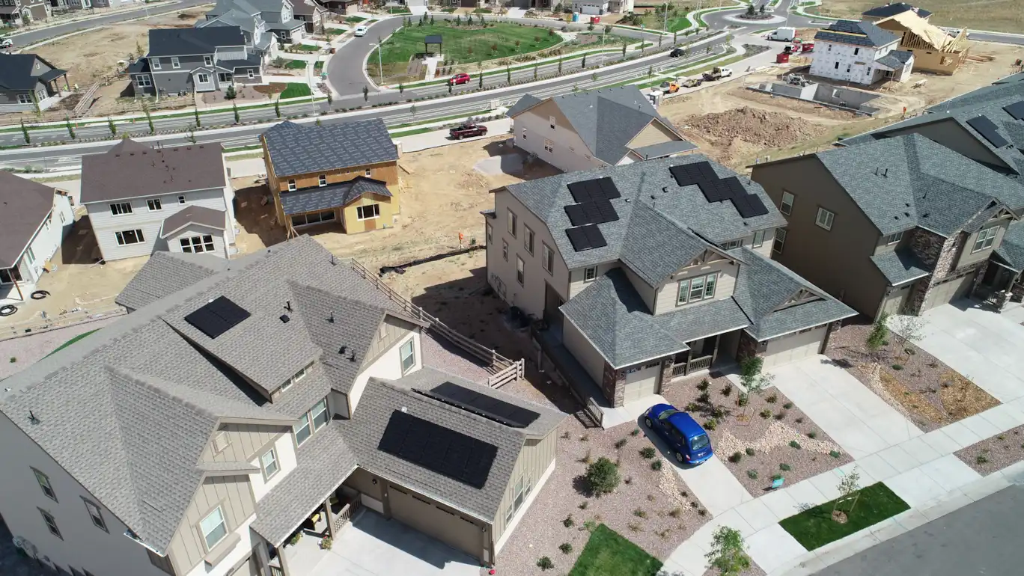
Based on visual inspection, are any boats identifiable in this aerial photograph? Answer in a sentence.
No, no boat can be seen from above.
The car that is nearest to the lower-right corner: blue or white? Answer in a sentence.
The color of the car that is nearest to the lower-right corner is blue.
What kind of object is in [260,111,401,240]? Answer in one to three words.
house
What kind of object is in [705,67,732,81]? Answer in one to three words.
vehicle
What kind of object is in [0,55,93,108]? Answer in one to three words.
house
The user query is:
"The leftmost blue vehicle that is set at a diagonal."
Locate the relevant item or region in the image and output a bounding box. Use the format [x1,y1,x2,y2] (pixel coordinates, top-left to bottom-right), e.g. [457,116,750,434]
[643,401,716,467]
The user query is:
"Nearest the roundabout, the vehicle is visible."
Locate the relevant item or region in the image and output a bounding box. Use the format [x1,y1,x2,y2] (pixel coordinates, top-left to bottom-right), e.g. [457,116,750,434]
[770,26,799,42]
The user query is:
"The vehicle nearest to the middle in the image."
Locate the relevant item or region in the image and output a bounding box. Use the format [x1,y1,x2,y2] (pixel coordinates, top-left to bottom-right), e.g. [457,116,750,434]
[449,123,486,140]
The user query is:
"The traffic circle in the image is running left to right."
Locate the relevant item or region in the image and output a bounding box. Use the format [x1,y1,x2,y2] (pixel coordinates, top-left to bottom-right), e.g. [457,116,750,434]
[686,8,821,29]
